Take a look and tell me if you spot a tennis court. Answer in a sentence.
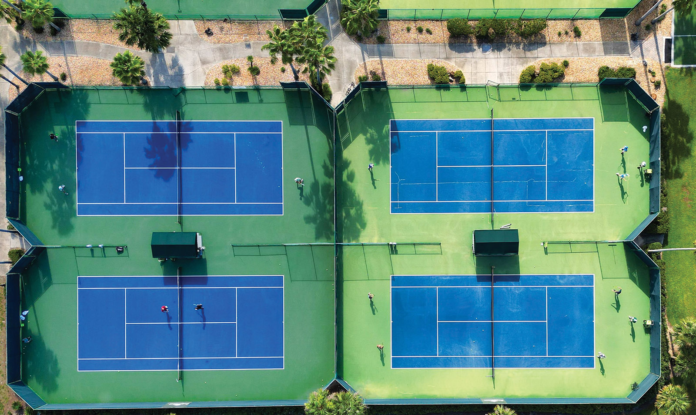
Yes, the frame does contain a tennis court.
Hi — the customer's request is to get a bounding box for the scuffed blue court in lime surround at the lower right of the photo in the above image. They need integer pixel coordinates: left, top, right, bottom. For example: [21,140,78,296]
[336,240,650,397]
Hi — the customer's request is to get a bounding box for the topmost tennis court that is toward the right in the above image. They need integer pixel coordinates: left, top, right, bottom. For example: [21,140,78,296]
[343,0,640,20]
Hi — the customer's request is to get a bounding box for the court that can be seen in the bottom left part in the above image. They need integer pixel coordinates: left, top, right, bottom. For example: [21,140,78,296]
[20,245,336,402]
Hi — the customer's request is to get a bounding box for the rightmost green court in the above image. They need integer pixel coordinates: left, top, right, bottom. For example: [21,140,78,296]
[674,9,696,67]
